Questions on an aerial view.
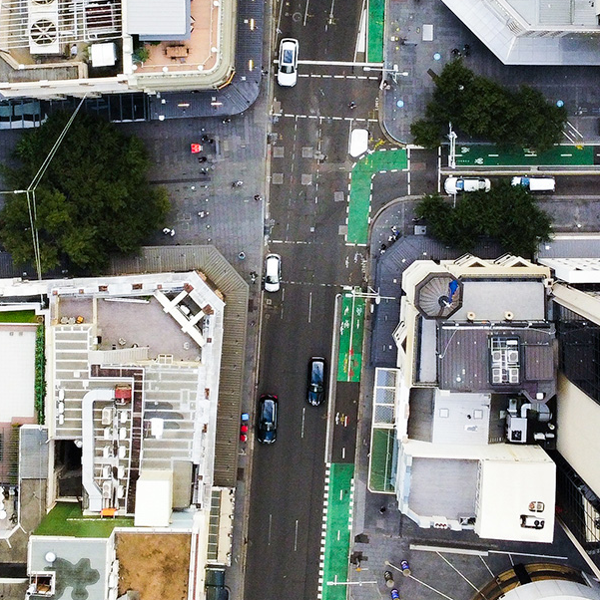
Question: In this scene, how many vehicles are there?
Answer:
six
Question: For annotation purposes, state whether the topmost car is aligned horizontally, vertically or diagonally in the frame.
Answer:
vertically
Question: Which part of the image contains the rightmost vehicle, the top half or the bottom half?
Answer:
top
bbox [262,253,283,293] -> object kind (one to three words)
car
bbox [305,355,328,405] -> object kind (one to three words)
car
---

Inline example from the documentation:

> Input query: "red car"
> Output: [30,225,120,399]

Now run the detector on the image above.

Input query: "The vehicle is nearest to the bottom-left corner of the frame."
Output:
[257,393,279,443]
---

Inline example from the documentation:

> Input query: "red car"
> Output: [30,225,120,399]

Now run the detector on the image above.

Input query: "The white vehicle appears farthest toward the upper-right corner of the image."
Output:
[511,173,558,195]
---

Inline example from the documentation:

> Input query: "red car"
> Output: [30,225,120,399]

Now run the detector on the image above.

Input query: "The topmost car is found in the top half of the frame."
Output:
[277,38,299,87]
